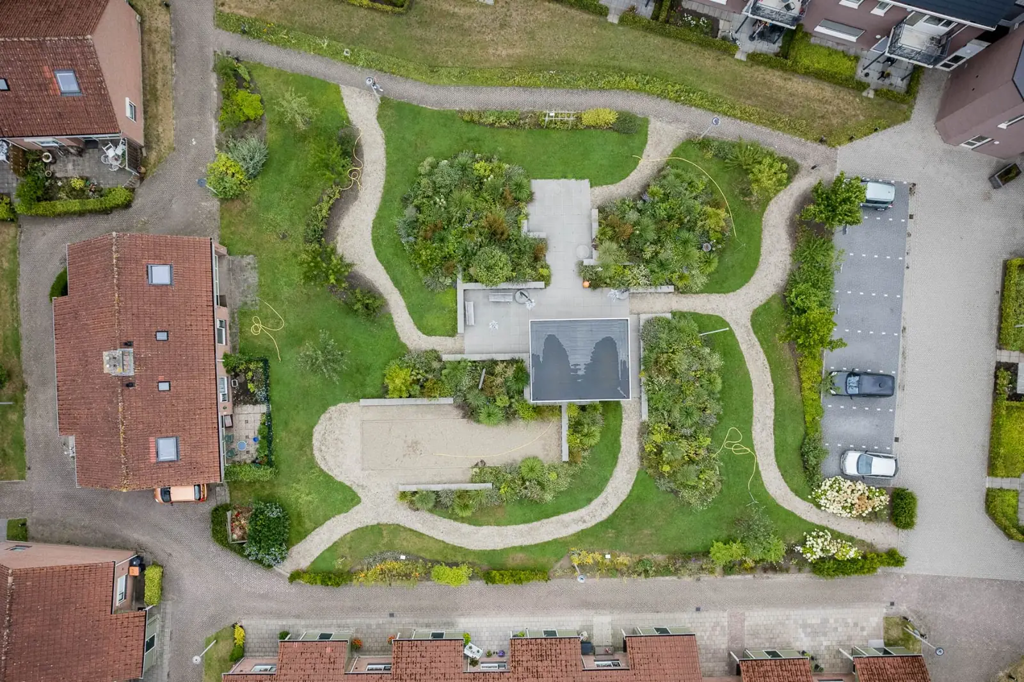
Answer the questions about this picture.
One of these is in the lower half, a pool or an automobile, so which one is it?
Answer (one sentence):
It is an automobile that can be seen in the lower half.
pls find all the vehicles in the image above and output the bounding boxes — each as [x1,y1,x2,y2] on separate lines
[155,485,208,506]
[826,367,896,399]
[836,449,899,480]
[832,181,897,210]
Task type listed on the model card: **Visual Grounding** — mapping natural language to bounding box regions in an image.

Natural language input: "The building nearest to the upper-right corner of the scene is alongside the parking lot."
[935,0,1024,159]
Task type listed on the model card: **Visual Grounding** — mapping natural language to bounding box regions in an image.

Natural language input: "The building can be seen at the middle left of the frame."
[51,231,234,493]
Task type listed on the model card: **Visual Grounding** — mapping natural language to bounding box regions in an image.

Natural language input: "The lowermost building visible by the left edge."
[0,537,154,682]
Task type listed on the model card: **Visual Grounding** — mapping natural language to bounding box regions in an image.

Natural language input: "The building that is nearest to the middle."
[529,318,632,403]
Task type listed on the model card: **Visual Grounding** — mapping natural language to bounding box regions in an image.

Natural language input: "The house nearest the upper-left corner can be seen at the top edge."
[0,0,145,147]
